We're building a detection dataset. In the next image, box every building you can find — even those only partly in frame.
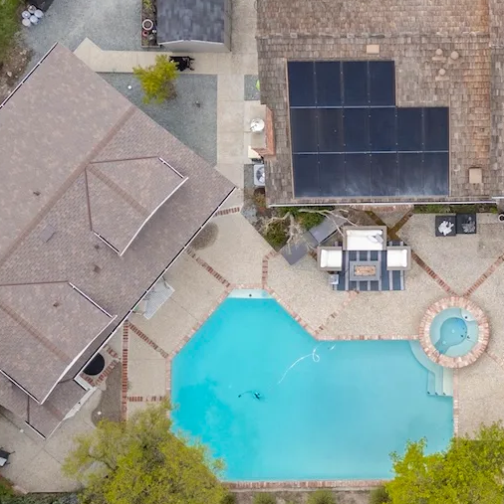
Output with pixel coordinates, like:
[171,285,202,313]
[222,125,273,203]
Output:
[0,42,237,439]
[243,0,504,206]
[156,0,232,53]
